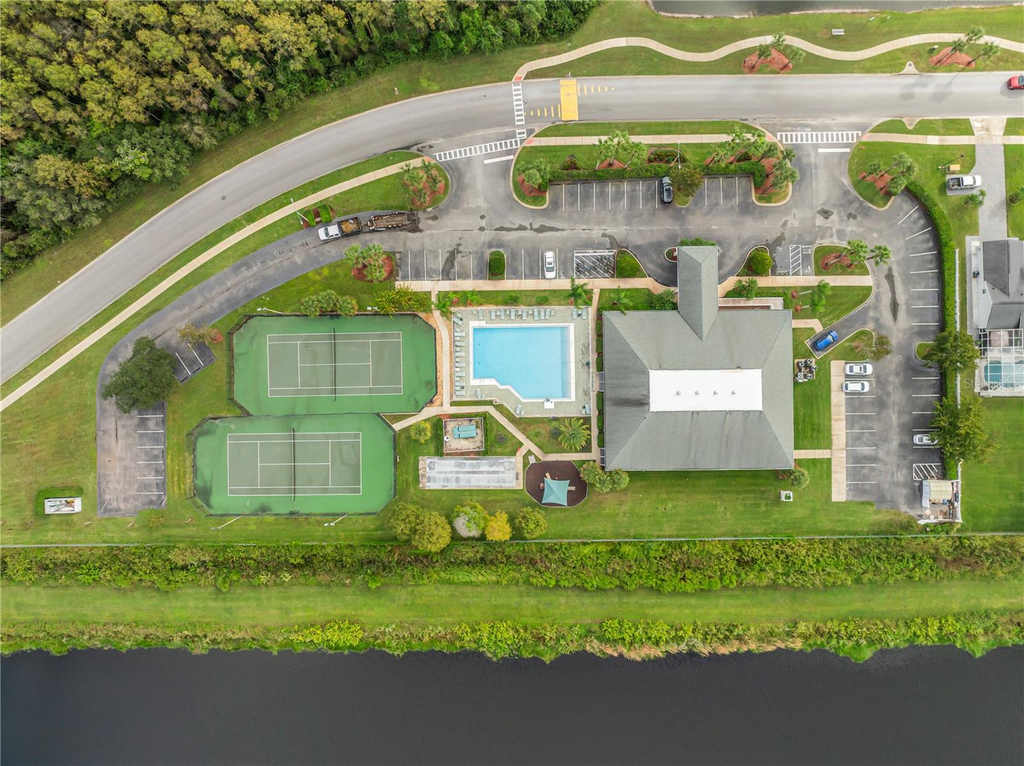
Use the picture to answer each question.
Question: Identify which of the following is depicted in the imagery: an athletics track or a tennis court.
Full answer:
Looking from above, you can make out a tennis court.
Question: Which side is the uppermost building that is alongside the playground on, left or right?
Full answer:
The uppermost building that is alongside the playground appears in the right half of the scene.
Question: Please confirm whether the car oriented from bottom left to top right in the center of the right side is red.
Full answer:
No, the car oriented from bottom left to top right in the center of the right side is actually blue.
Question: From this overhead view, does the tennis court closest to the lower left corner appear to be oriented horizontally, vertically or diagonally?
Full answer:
What the image shows is the tennis court closest to the lower left corner lying horizontally.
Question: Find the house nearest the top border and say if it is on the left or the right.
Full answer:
It is on the right.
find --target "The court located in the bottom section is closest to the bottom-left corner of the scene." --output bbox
[194,415,394,516]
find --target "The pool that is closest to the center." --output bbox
[452,306,591,417]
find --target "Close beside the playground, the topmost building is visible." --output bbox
[600,246,794,472]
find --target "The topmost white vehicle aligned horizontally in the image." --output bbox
[949,173,984,188]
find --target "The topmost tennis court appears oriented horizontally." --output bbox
[233,314,437,416]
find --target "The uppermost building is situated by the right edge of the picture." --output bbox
[974,238,1024,329]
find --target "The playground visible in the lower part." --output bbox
[525,460,588,508]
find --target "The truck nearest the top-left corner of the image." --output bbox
[316,215,362,236]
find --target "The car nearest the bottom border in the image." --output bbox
[913,433,941,446]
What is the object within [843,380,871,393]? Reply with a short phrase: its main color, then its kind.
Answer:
white vehicle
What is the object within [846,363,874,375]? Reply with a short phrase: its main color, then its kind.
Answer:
white vehicle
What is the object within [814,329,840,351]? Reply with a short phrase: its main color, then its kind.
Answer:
blue car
